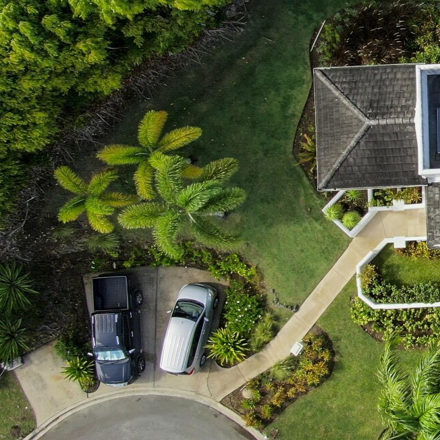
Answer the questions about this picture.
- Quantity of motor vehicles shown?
2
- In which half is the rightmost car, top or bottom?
bottom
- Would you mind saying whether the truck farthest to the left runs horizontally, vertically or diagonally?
vertically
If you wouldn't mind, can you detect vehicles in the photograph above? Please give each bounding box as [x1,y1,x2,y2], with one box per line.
[89,261,153,384]
[164,279,228,380]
